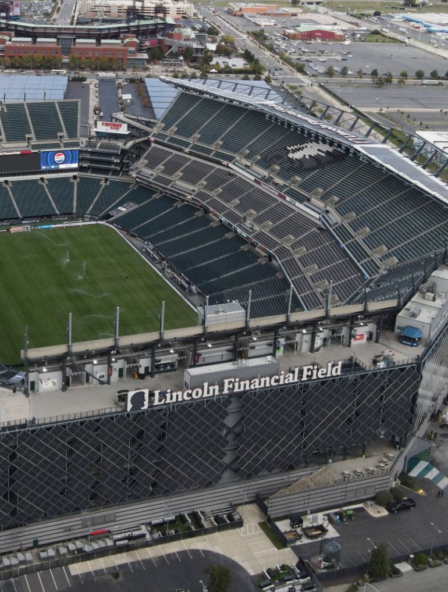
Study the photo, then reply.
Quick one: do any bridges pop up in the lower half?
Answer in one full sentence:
No, in the lower half there is no bridge.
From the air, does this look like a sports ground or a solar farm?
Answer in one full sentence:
It's a sports ground.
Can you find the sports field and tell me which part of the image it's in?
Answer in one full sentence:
The sports field appears toward the left of the photo.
